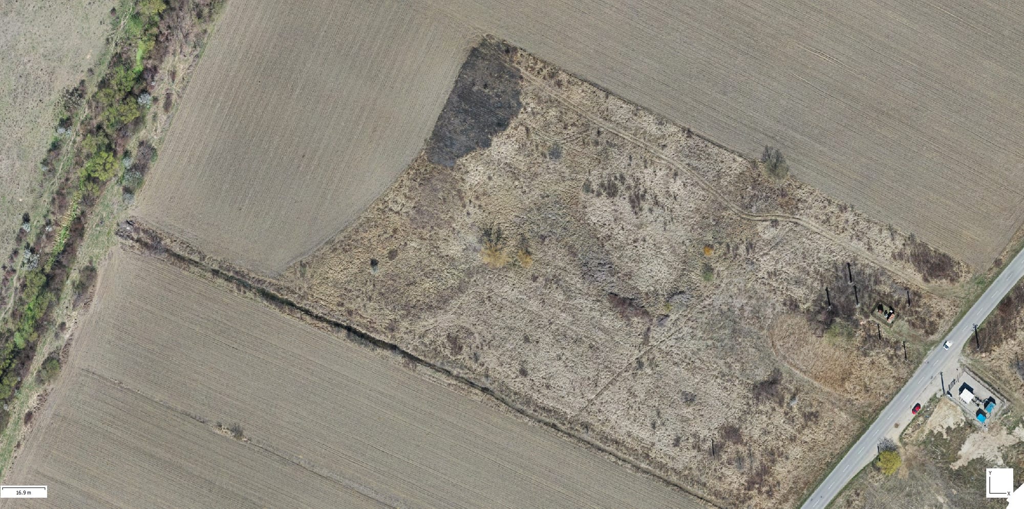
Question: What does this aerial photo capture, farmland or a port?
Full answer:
This looks like farmland.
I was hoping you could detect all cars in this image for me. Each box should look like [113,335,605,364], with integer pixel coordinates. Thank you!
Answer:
[912,404,921,414]
[943,340,952,351]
